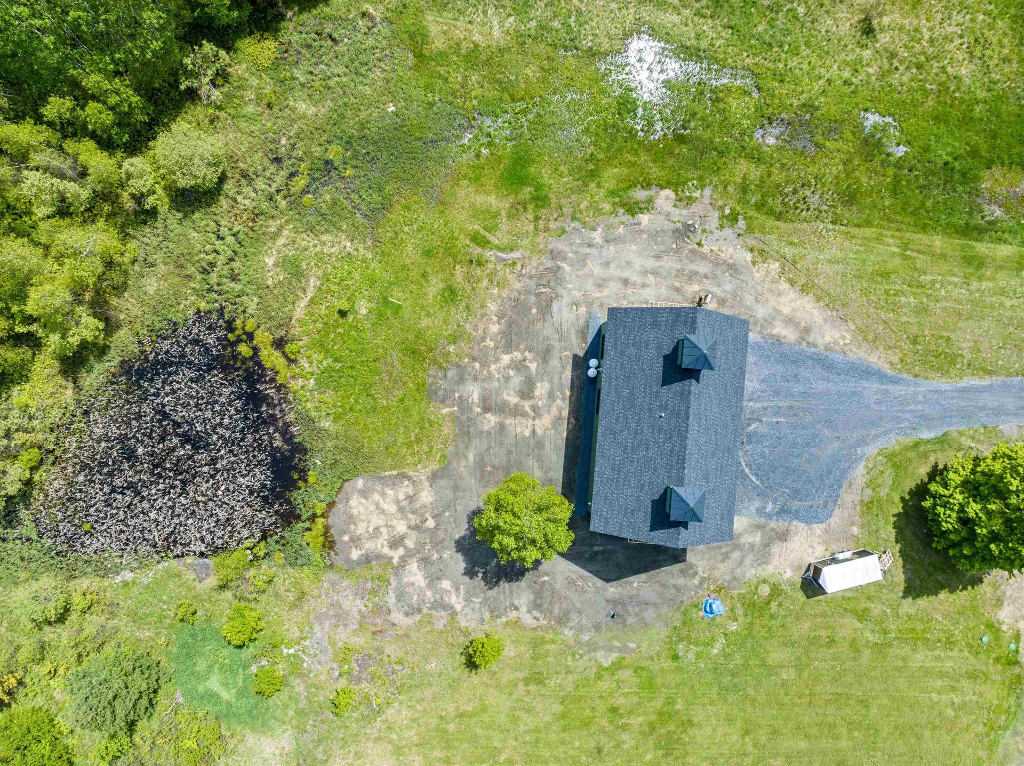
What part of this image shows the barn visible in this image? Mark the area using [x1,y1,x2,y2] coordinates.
[586,299,751,553]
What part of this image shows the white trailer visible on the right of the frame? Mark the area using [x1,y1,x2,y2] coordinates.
[797,548,882,594]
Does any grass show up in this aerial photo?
Yes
